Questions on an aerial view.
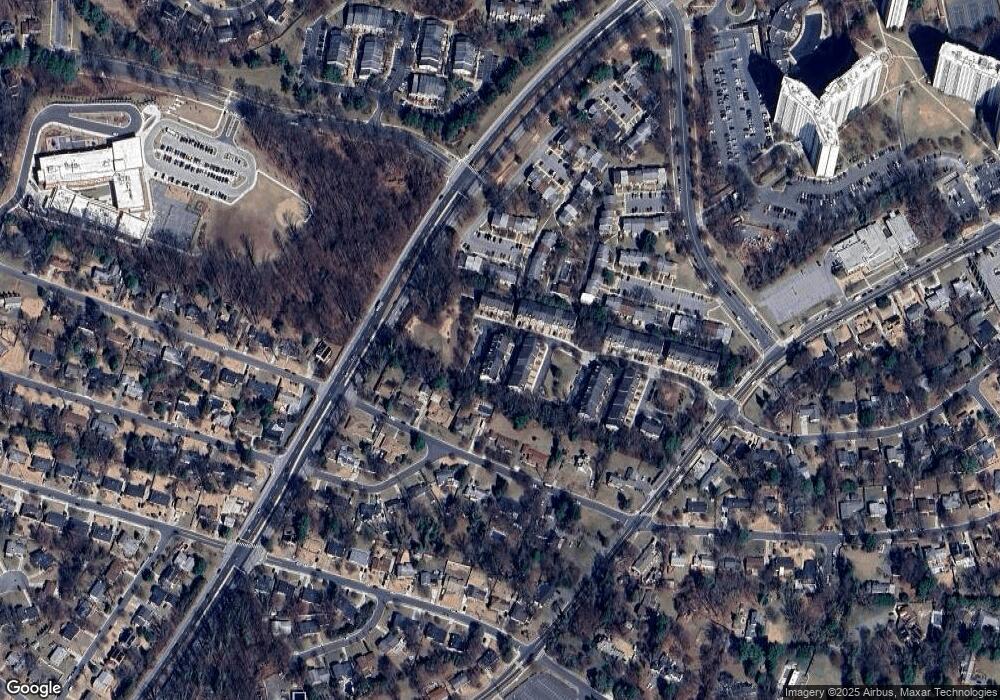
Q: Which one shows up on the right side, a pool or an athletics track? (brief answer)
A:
pool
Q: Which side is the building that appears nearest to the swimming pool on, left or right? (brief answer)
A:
right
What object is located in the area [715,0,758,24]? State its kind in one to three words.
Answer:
roundabout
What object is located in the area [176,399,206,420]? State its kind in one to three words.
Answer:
house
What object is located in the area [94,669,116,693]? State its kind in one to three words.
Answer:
house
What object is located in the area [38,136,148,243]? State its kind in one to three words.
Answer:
building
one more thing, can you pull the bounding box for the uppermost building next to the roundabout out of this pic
[770,0,806,75]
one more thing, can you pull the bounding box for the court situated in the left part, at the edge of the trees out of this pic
[150,185,200,248]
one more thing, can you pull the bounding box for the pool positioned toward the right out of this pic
[788,11,832,63]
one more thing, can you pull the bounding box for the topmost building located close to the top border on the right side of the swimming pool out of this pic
[869,0,909,31]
